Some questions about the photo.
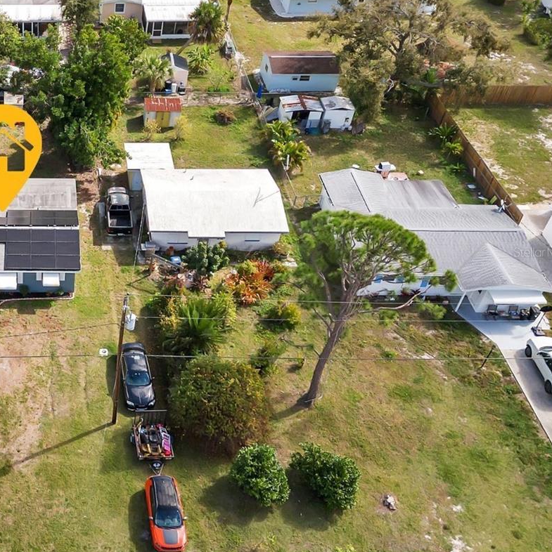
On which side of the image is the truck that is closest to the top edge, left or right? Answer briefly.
left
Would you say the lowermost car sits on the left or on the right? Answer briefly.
left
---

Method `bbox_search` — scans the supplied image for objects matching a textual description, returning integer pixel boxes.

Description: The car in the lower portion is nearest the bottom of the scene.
[144,469,192,551]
